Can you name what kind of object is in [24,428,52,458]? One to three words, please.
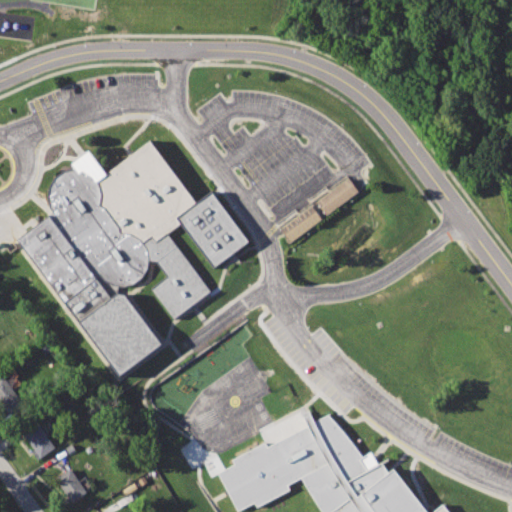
house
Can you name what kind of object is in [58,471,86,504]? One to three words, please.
house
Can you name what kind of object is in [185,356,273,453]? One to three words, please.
sports court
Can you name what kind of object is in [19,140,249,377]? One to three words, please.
building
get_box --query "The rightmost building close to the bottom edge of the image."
[218,406,448,512]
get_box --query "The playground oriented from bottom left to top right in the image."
[154,325,252,414]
